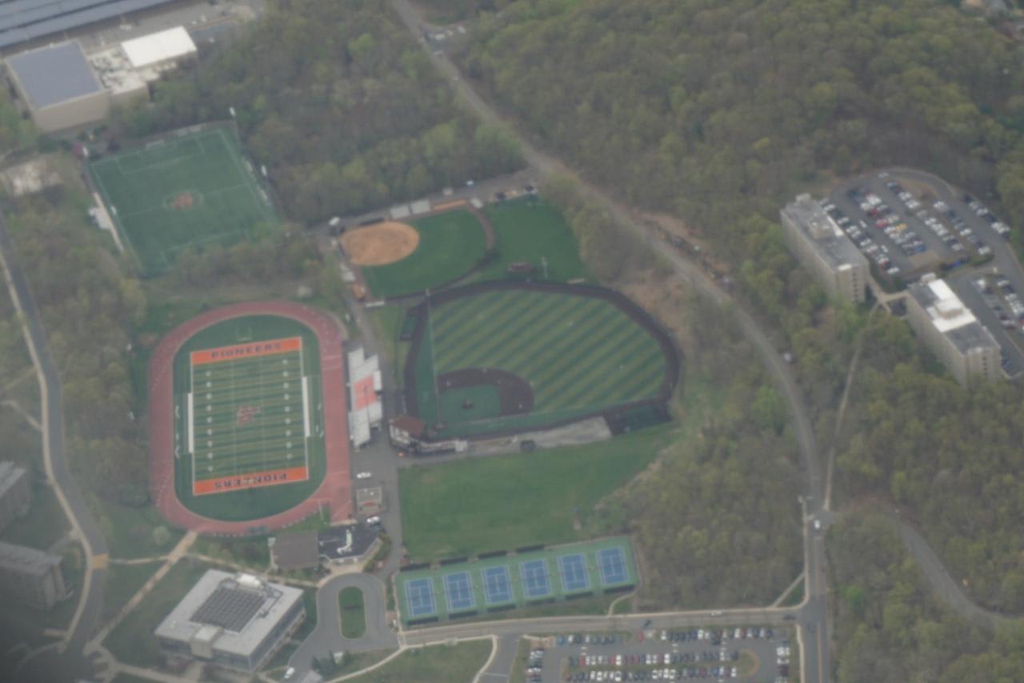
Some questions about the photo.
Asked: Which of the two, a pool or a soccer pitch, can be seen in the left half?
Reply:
soccer pitch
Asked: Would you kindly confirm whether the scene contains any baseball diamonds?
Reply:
Yes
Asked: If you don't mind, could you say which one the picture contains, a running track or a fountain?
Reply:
running track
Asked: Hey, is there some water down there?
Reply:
No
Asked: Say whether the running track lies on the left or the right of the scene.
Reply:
left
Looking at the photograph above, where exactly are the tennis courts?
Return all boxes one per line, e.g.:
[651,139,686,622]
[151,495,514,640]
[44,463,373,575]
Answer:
[404,575,437,616]
[519,558,553,597]
[442,569,475,610]
[595,546,630,585]
[557,552,591,591]
[481,564,514,603]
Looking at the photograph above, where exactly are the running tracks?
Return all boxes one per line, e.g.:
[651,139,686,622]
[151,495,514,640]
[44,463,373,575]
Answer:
[150,300,358,538]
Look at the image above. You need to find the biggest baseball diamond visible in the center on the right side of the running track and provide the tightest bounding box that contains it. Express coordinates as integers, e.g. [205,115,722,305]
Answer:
[405,280,680,443]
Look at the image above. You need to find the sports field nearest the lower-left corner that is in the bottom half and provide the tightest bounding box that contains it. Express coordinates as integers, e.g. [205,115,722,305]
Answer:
[175,315,326,522]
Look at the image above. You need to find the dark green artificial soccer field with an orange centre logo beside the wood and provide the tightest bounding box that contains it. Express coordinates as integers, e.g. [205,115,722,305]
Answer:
[87,121,284,275]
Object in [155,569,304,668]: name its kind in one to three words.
building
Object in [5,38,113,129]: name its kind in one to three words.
building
